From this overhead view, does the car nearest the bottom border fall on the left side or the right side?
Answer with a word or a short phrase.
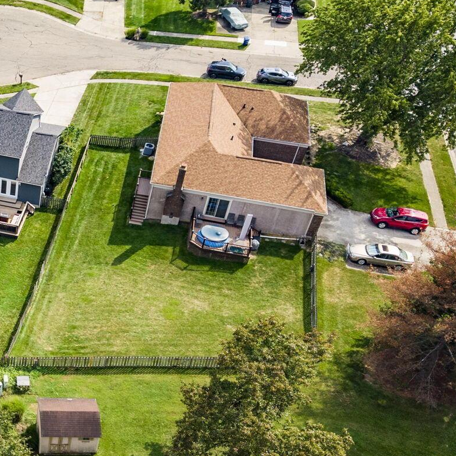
right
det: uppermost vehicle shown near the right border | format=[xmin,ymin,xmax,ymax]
[371,205,435,233]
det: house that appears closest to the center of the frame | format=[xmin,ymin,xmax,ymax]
[127,82,329,246]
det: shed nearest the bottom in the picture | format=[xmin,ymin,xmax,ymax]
[37,399,104,454]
